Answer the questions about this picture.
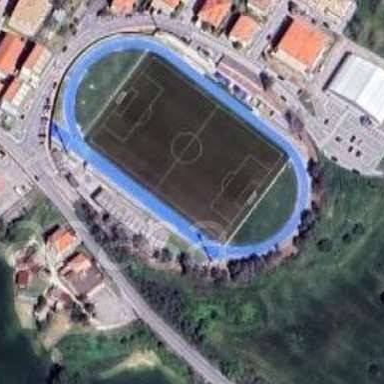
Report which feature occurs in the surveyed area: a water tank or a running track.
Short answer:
running track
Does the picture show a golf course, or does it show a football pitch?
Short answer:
football pitch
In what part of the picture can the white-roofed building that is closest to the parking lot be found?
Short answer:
top right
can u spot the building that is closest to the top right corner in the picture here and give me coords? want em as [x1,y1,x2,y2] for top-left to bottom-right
[301,0,358,38]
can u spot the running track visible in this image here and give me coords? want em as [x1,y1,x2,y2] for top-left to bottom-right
[52,36,314,262]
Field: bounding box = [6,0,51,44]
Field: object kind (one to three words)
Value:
house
